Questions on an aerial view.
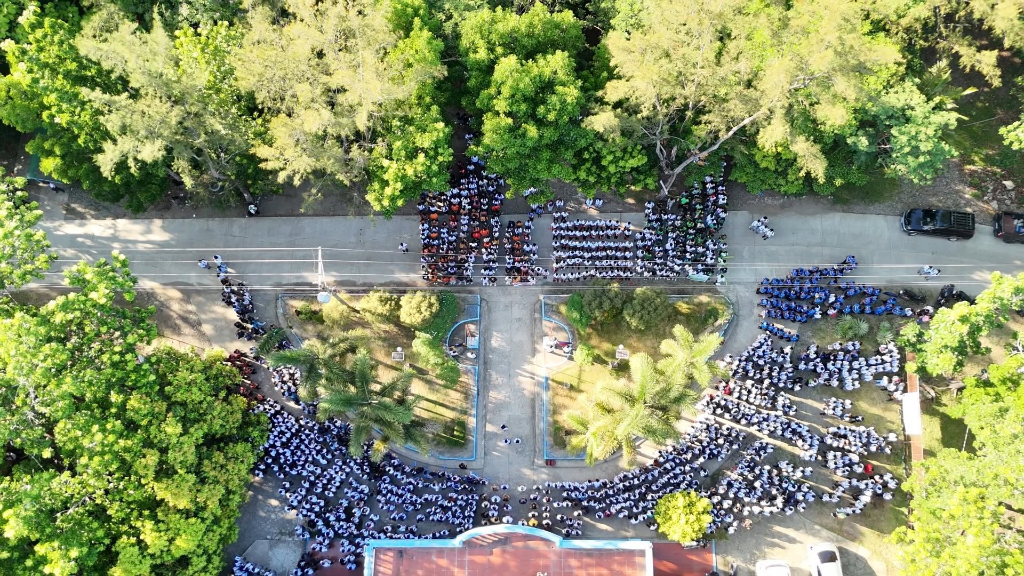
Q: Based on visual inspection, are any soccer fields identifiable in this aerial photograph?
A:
No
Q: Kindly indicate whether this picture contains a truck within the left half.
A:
No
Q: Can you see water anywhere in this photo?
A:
No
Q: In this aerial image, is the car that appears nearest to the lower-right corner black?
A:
No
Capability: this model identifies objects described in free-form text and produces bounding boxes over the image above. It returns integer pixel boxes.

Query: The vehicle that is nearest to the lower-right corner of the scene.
[810,539,848,576]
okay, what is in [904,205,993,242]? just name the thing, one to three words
truck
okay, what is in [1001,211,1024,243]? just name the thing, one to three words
truck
